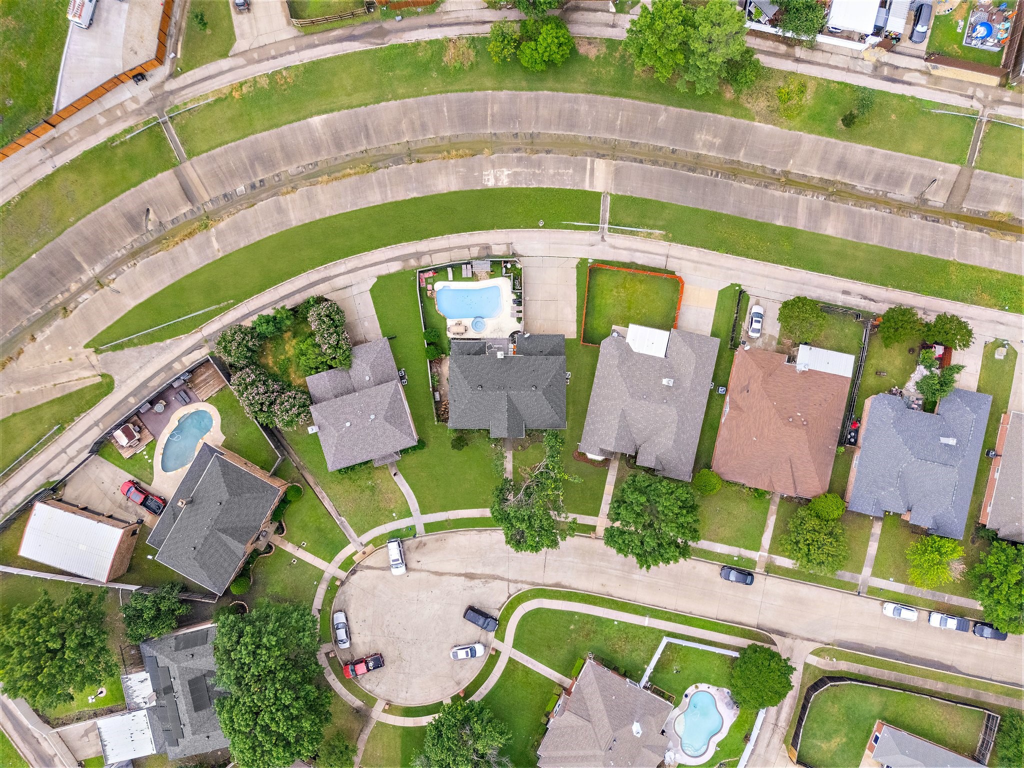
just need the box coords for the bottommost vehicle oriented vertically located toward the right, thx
[747,305,765,338]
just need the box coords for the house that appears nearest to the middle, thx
[448,332,567,439]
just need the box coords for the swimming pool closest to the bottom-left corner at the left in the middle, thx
[151,402,225,504]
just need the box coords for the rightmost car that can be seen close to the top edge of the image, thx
[910,1,937,44]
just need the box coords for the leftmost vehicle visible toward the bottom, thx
[119,479,167,519]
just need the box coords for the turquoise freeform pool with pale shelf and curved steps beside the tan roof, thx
[667,683,740,766]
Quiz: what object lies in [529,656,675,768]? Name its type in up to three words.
house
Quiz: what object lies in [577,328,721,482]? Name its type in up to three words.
house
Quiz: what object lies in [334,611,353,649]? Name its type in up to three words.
car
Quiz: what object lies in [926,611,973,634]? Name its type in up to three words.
truck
